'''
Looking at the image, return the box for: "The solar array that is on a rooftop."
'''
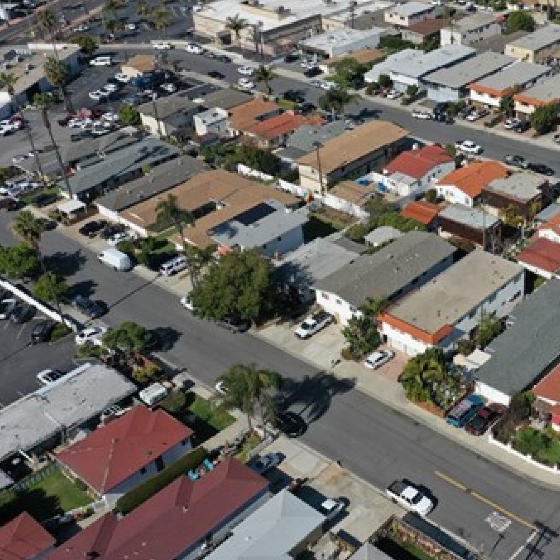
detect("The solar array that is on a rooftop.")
[234,205,275,225]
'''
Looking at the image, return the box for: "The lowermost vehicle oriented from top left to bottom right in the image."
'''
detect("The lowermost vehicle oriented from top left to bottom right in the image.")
[384,476,435,515]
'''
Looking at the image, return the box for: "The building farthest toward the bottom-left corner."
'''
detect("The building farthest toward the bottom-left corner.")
[0,510,57,560]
